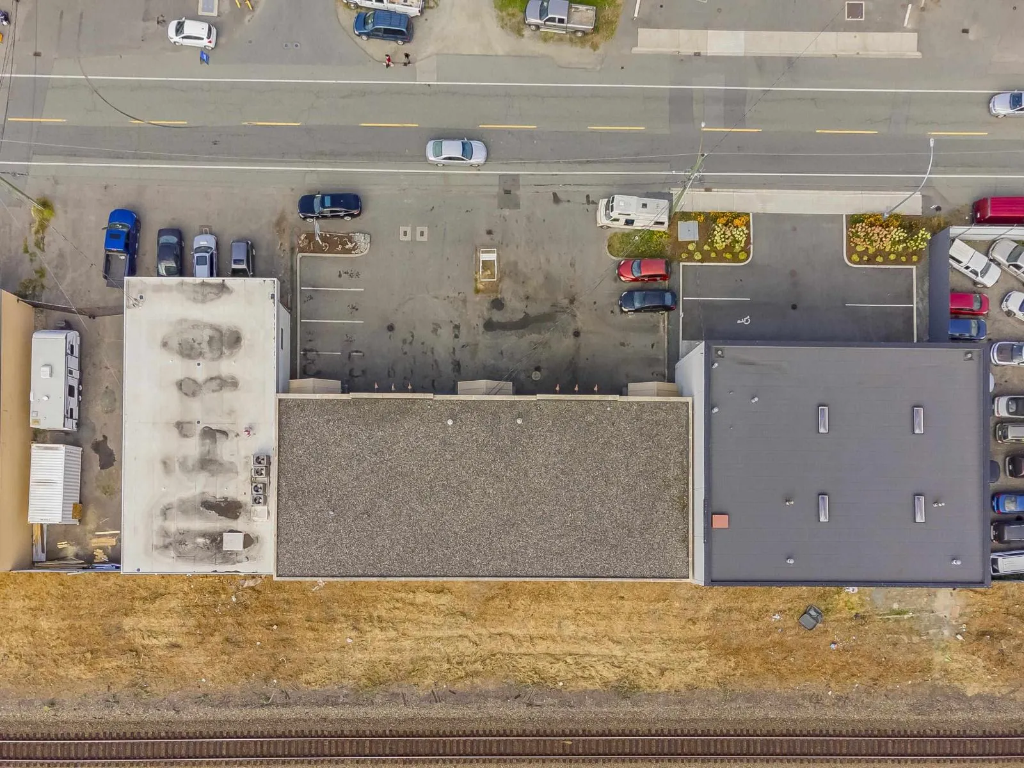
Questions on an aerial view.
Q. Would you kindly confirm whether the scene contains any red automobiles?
Yes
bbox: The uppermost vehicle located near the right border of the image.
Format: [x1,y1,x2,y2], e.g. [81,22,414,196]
[985,88,1024,121]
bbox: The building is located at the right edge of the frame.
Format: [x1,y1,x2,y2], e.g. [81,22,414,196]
[676,341,991,587]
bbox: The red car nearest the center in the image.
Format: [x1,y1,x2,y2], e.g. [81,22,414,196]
[616,256,671,284]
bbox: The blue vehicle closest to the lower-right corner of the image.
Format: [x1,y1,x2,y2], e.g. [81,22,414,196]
[990,492,1024,515]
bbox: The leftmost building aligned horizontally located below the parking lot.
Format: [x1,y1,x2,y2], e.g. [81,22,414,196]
[274,381,692,582]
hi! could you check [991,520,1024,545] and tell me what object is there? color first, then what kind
gray truck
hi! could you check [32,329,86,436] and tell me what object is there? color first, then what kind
white trailer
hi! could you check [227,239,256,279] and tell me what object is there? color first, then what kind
gray car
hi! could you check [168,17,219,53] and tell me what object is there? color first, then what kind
white car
